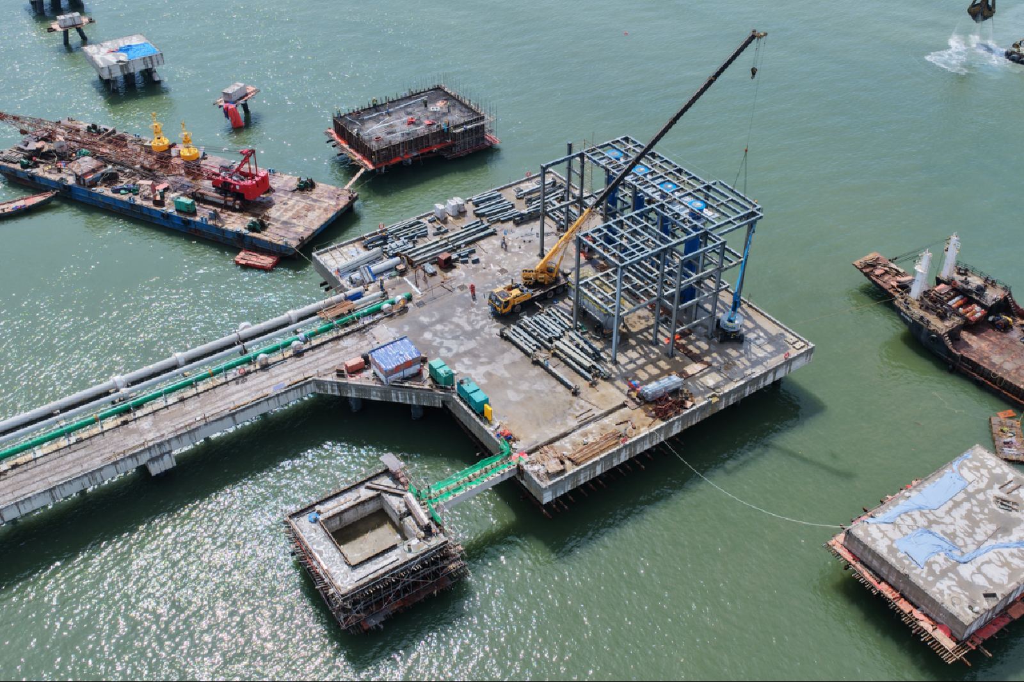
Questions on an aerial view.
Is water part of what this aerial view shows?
Yes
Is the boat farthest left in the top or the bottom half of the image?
top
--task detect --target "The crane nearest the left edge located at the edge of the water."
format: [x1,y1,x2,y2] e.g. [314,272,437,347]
[0,109,274,210]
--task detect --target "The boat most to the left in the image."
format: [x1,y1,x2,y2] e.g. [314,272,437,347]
[0,185,59,220]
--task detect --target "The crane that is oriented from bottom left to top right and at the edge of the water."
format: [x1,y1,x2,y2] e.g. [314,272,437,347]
[482,34,769,316]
